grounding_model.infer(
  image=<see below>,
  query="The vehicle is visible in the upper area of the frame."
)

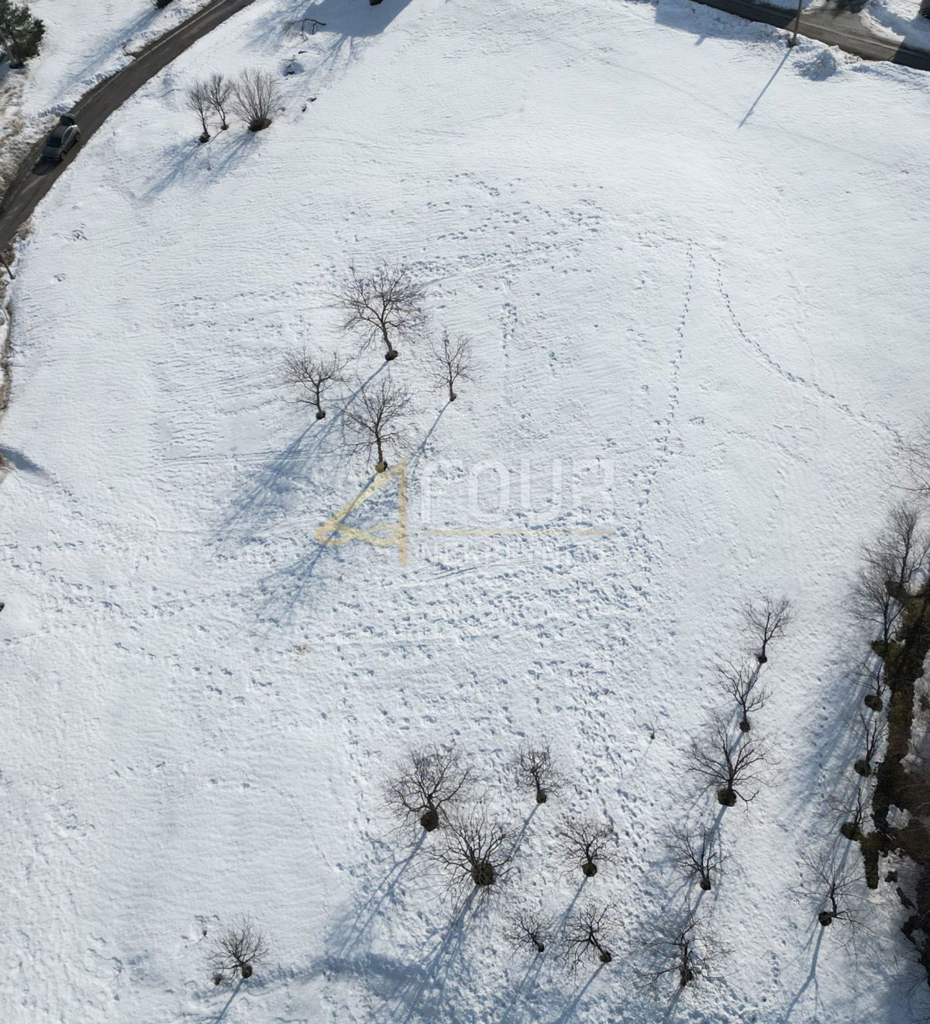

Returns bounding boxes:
[38,112,80,158]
